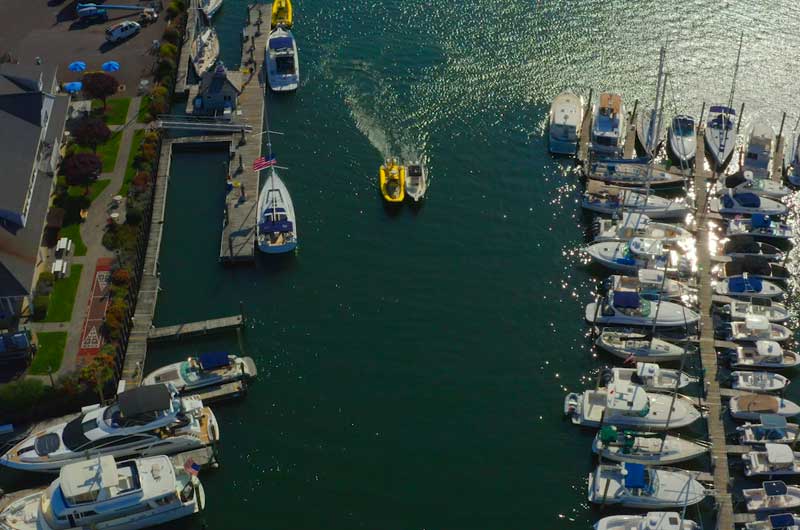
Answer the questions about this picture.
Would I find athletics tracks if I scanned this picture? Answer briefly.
No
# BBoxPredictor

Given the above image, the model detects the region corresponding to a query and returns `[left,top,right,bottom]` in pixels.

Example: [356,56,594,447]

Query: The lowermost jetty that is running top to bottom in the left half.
[127,141,174,383]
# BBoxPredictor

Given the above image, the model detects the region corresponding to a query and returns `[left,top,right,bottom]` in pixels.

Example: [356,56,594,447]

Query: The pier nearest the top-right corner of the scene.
[770,127,788,184]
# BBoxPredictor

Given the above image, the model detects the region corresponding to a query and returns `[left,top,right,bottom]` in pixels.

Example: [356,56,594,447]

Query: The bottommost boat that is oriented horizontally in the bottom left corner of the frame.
[0,436,209,530]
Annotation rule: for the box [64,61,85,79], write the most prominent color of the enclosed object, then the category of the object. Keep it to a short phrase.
blue umbrella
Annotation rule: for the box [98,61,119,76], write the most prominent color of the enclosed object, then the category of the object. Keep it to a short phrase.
blue umbrella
